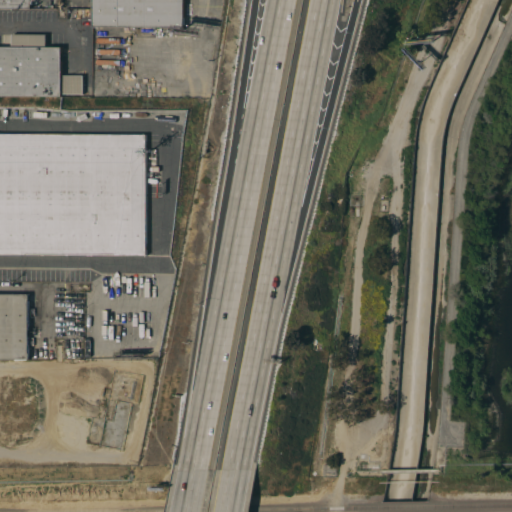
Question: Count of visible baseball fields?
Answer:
none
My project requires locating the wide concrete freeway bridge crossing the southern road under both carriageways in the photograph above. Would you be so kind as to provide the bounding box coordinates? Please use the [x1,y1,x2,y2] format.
[165,470,257,512]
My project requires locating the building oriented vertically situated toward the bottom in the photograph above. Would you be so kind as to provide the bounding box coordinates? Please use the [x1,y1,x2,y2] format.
[0,294,31,360]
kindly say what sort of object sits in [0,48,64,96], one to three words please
building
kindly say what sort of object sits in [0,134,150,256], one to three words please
warehouse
